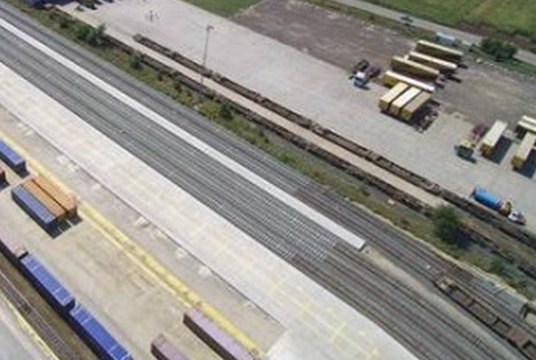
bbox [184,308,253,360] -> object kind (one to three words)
shipping container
